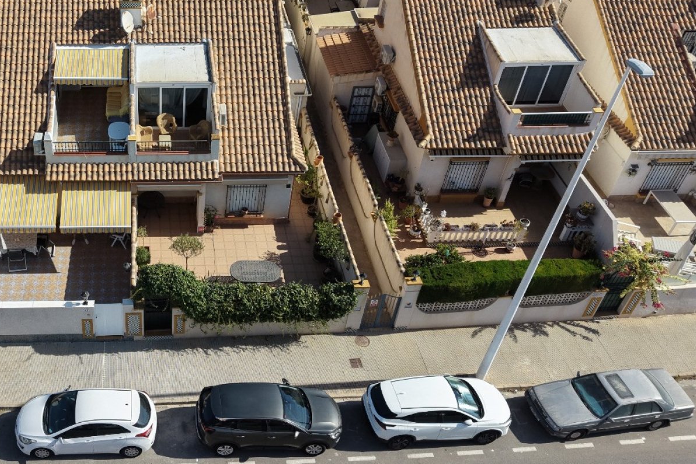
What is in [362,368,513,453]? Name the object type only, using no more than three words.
car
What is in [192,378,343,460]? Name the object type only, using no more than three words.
car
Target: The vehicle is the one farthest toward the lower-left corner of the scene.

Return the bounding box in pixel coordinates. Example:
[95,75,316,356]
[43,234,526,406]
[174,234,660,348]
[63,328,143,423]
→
[16,384,159,462]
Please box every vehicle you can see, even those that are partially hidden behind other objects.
[16,384,159,462]
[362,368,513,453]
[519,367,694,443]
[192,378,343,460]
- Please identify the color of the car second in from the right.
white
